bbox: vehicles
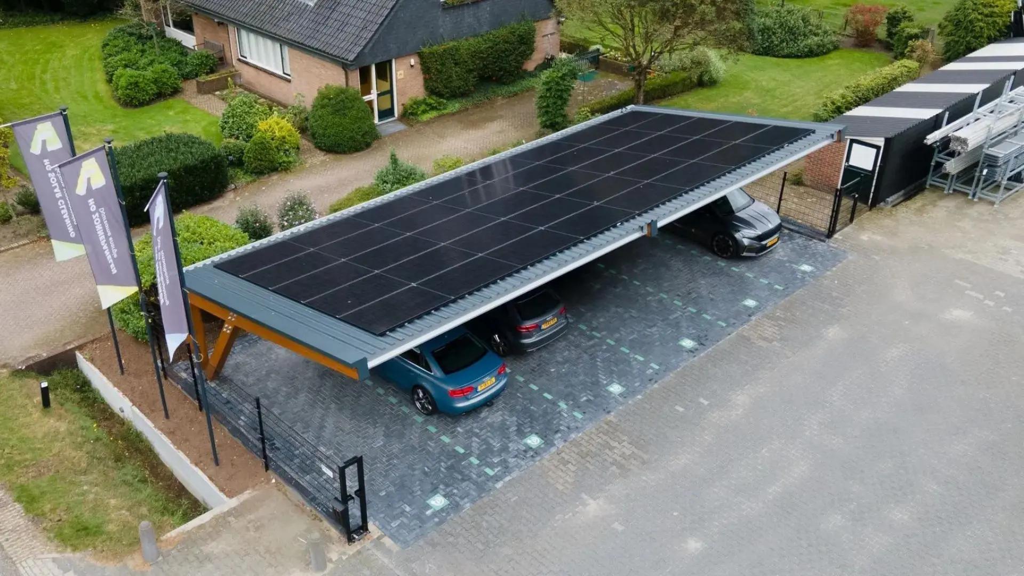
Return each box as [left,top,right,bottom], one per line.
[466,285,574,357]
[668,188,787,261]
[380,327,515,421]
